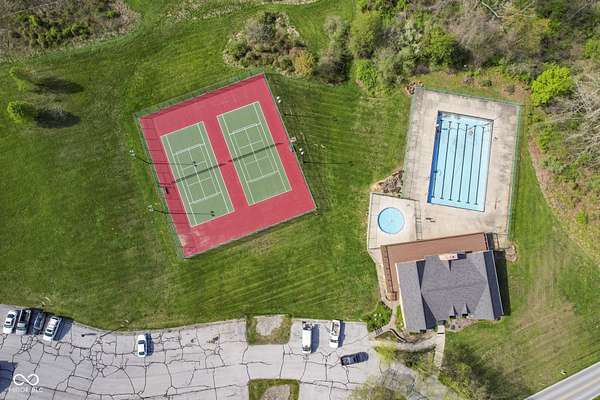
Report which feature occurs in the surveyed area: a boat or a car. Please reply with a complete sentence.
I can see a car in this picture.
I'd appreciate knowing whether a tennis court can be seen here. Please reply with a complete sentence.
Yes, you can see a tennis court in this photo.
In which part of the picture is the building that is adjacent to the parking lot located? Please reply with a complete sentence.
The building that is adjacent to the parking lot is in the bottom right part of the image.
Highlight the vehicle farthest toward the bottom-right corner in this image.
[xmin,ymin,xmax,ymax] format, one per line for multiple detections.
[340,350,370,365]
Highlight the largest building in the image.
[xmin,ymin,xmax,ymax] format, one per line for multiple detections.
[397,250,503,334]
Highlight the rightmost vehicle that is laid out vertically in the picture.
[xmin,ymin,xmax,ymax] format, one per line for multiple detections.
[329,319,342,349]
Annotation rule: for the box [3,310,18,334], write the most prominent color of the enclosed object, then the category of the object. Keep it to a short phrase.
white car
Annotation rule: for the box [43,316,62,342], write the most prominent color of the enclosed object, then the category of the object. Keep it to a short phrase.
white car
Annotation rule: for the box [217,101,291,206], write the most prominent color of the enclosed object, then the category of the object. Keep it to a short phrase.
green tennis court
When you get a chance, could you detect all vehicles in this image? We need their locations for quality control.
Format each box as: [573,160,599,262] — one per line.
[16,309,33,336]
[329,319,342,349]
[3,310,18,334]
[43,316,62,342]
[137,334,148,357]
[340,350,370,365]
[302,319,313,353]
[30,311,47,337]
